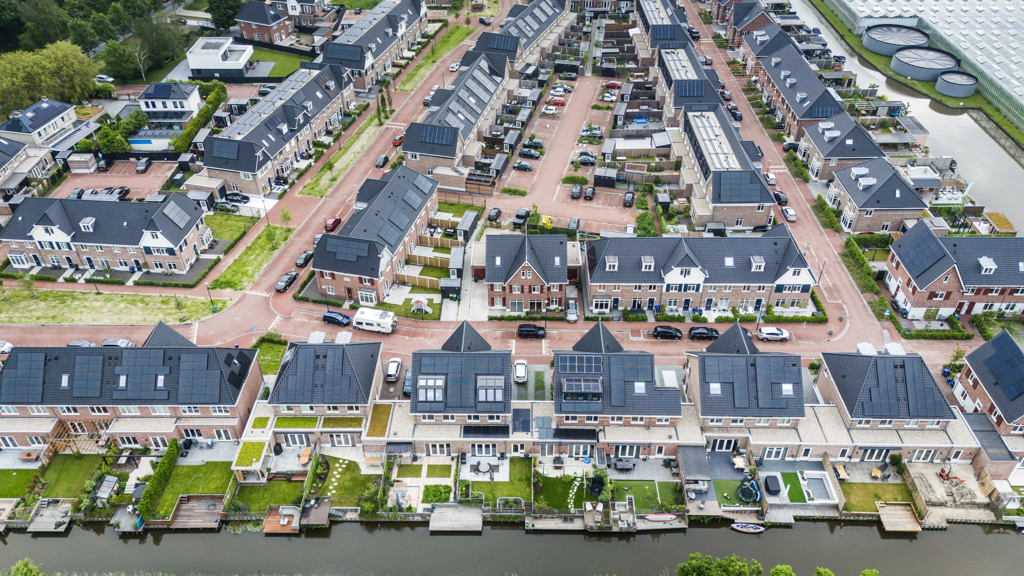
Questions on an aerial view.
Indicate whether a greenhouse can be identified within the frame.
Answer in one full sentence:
Yes, I can see a greenhouse in this picture.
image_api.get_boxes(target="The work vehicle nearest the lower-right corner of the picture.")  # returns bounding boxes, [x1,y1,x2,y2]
[938,463,977,488]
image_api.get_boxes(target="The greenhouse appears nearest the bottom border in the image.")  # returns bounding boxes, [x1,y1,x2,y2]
[87,461,135,503]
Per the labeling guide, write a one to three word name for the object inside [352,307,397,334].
camper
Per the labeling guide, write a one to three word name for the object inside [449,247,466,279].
shed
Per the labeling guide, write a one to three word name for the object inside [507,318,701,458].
house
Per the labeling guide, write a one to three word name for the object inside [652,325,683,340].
car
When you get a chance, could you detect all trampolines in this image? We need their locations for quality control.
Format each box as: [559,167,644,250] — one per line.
[583,471,610,501]
[731,473,766,508]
